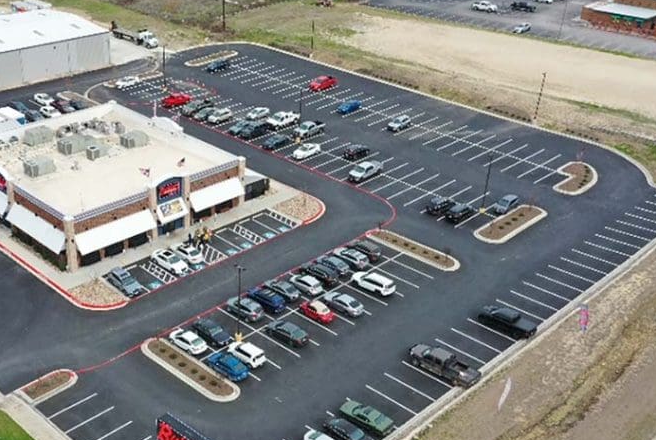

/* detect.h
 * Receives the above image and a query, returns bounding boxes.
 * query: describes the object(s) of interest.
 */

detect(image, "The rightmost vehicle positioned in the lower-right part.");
[474,302,536,339]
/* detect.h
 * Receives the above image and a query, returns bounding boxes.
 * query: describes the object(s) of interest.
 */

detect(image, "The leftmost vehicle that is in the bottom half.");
[112,262,147,293]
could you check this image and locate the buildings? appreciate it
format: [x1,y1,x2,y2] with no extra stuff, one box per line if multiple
[0,101,266,274]
[0,9,113,90]
[582,0,656,34]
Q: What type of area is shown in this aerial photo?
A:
parking lot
